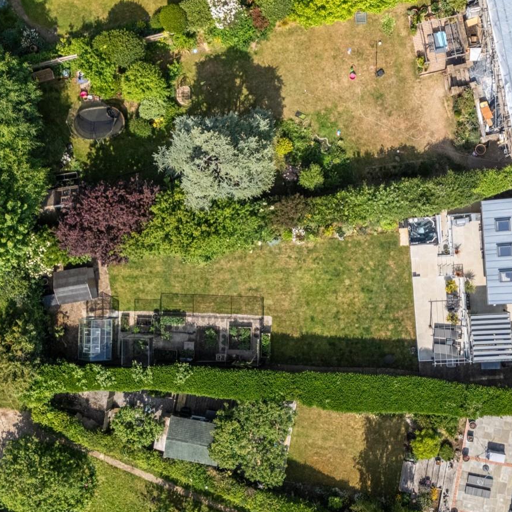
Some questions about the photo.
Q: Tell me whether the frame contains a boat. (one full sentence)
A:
No, no boat can be seen from above.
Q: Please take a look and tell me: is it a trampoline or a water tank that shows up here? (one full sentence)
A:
The image shows a trampoline.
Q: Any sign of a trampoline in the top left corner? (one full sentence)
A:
Yes, there is a trampoline in the top left corner.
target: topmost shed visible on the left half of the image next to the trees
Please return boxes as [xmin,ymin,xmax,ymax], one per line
[54,267,98,305]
